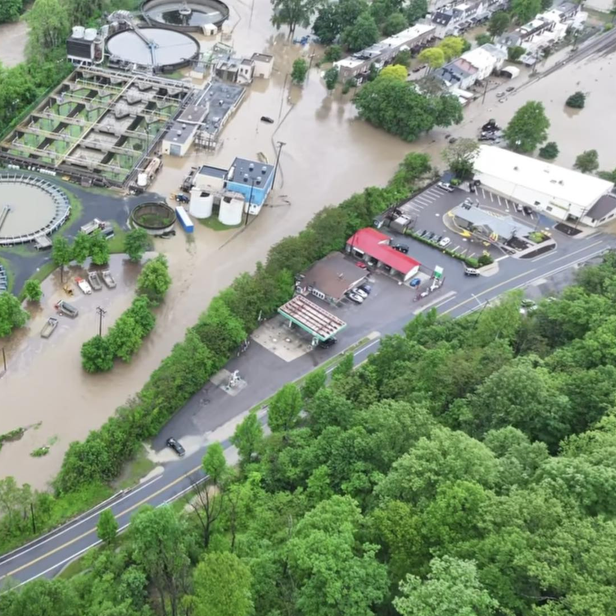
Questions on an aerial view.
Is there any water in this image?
Yes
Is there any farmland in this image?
No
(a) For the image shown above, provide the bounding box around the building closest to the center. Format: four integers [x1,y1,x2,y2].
[300,253,366,311]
